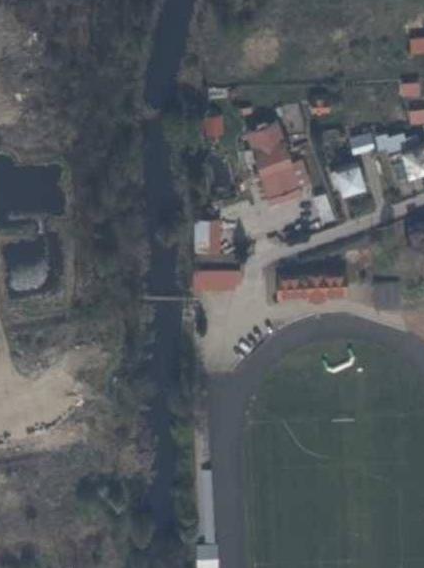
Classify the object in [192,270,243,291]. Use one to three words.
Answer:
building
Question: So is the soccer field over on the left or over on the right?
right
